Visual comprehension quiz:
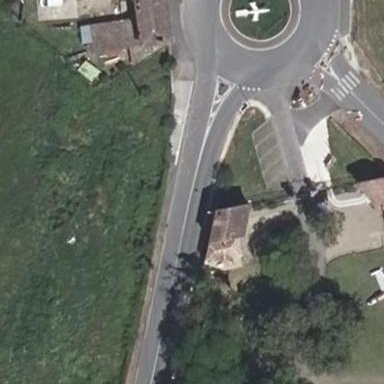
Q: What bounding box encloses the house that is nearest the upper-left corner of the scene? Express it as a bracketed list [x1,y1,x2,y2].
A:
[78,0,172,65]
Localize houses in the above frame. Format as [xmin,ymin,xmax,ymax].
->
[78,0,172,65]
[204,204,252,271]
[358,178,384,204]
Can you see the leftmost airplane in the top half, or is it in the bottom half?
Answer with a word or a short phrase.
top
